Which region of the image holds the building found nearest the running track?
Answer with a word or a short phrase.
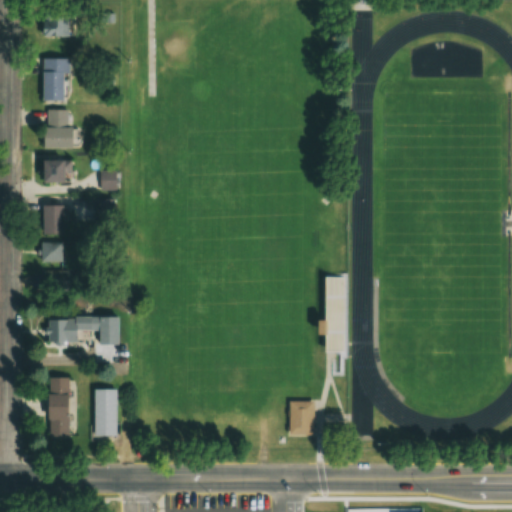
bottom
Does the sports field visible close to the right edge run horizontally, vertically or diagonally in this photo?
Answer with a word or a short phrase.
vertically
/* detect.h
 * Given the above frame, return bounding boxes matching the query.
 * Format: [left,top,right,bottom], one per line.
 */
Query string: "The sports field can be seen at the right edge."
[384,90,501,355]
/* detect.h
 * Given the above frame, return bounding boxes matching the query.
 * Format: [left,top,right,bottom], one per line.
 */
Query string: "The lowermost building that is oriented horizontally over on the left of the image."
[48,316,120,345]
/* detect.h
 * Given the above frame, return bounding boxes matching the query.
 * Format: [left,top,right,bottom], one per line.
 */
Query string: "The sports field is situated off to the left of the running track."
[187,108,304,394]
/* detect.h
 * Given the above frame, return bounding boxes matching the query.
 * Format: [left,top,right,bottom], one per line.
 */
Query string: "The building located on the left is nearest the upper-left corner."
[44,17,70,36]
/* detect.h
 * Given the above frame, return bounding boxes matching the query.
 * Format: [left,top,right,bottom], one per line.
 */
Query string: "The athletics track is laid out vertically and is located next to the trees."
[352,12,512,438]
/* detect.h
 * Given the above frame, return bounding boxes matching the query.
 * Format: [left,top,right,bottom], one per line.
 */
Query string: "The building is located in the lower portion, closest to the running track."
[290,401,316,438]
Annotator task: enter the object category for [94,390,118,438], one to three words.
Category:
barn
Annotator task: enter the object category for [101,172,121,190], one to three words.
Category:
building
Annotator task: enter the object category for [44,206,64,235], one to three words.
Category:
house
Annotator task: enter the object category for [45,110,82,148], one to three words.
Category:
house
